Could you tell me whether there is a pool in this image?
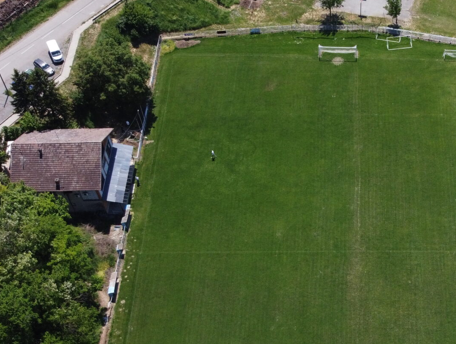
No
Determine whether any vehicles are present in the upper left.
Yes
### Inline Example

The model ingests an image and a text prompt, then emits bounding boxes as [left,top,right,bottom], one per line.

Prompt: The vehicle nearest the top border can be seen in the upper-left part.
[46,36,64,61]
